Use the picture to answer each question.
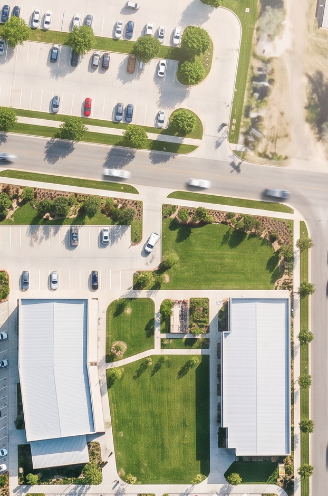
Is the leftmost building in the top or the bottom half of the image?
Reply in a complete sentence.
The leftmost building is in the bottom half of the image.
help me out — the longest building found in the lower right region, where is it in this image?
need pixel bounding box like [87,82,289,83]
[220,298,291,456]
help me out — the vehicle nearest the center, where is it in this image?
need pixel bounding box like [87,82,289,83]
[145,231,159,253]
